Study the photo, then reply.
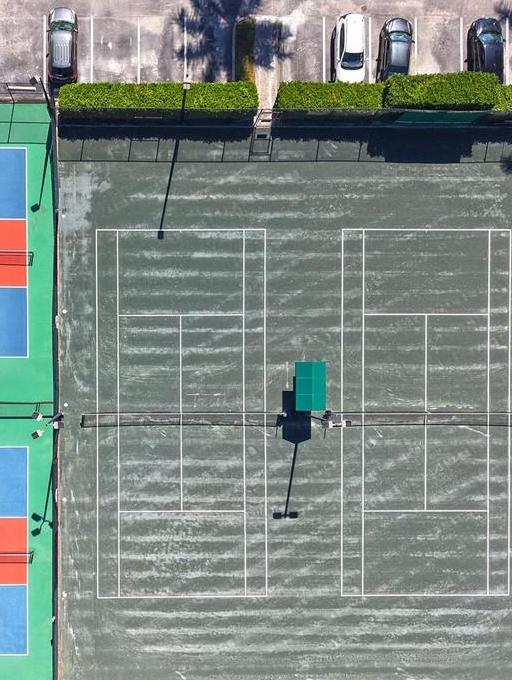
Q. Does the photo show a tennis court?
Yes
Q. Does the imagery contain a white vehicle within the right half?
Yes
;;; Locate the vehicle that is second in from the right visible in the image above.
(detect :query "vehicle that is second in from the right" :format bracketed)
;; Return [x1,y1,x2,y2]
[377,19,415,82]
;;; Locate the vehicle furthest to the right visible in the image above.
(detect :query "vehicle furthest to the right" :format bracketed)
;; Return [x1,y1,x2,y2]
[466,17,507,88]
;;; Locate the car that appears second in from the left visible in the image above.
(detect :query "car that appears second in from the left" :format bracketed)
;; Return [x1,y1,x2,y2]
[330,13,368,85]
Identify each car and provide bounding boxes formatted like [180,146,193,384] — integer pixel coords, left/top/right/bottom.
[377,19,415,82]
[45,8,81,87]
[330,13,368,85]
[466,17,507,88]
